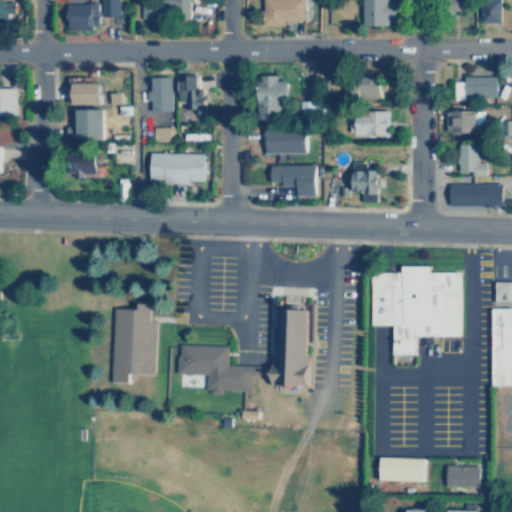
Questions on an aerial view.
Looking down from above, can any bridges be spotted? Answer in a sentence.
No, there's no bridge here.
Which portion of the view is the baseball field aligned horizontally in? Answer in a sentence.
You can find the baseball field aligned horizontally in the bottom left area of the picture.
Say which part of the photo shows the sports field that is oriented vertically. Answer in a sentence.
The sports field that is oriented vertically sits in the bottom left section of the image.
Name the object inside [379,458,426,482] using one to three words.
building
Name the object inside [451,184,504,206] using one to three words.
building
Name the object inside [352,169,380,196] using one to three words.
house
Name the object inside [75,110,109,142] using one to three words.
house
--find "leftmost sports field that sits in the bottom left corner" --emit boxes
[0,335,84,512]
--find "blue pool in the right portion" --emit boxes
[336,152,352,168]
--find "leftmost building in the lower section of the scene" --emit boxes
[114,304,158,384]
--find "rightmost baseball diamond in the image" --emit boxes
[81,480,184,512]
